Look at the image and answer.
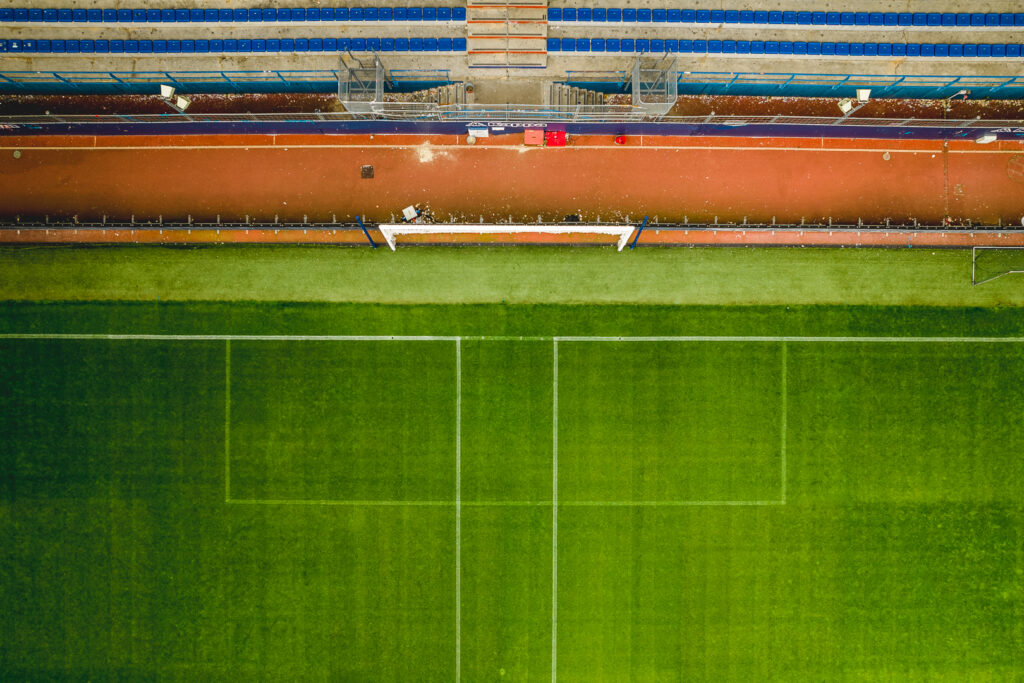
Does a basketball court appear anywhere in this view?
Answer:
No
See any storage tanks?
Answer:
No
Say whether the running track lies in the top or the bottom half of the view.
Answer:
top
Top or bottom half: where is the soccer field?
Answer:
bottom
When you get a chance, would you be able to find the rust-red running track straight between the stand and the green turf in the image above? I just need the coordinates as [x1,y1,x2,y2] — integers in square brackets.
[0,134,1024,251]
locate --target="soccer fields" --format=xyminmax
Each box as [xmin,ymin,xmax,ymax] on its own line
[0,301,1024,683]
